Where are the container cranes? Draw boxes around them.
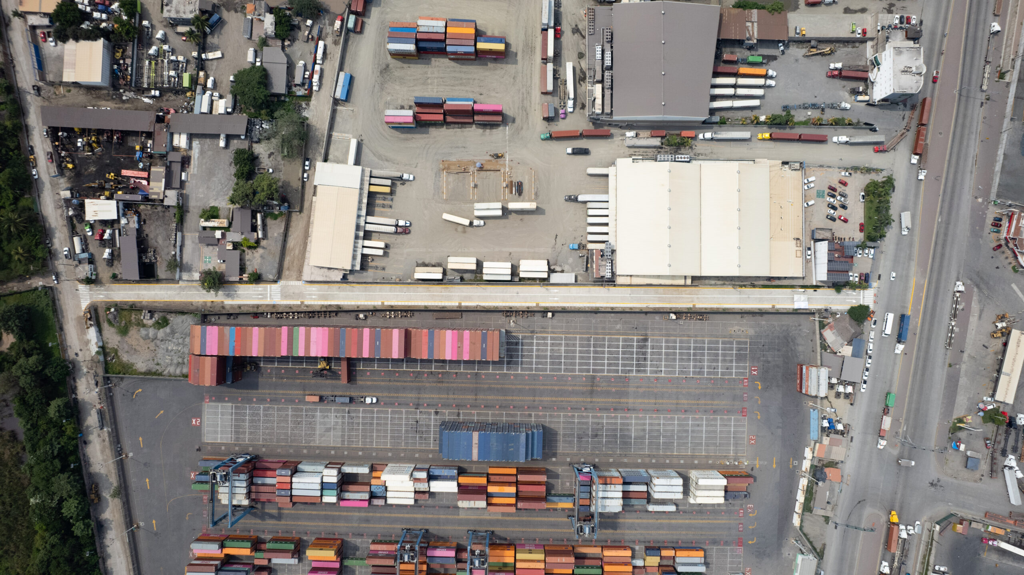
[465,528,495,575]
[565,461,601,543]
[394,526,429,575]
[206,452,259,529]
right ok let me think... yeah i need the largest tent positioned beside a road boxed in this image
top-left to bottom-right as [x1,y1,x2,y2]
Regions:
[788,291,811,310]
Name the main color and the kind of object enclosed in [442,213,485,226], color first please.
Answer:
white vehicle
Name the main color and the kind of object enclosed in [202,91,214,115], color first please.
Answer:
white vehicle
